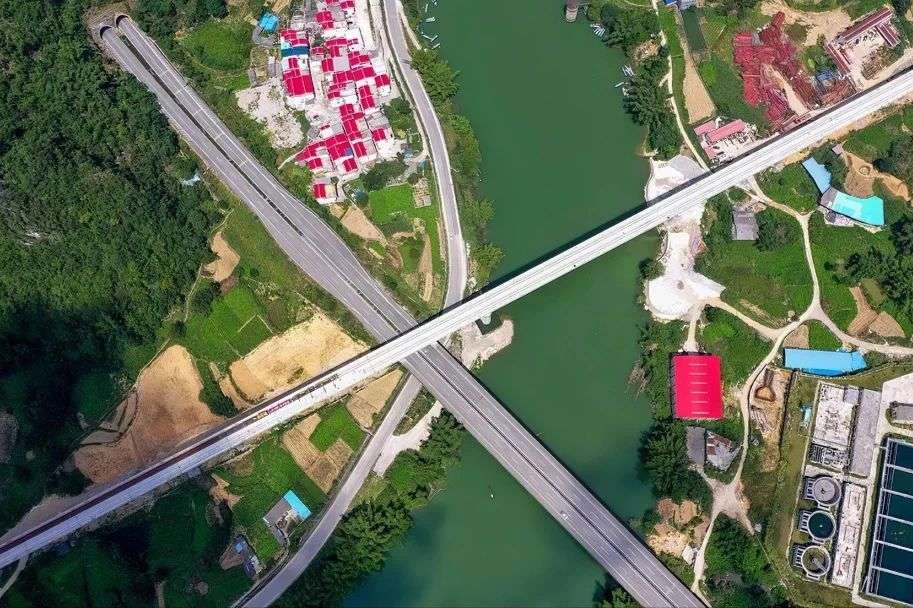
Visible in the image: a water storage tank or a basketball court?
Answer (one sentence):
Looking from above, you can make out a water storage tank.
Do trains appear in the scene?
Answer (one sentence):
Yes, a train appears in the view.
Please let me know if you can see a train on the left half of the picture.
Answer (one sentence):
Yes, a train shows up on the left half of the picture.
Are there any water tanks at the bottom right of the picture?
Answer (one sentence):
Yes, the scene does show a water tank at the bottom right of the picture.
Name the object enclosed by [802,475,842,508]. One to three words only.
water tank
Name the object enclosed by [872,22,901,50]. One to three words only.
building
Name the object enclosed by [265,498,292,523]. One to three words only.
house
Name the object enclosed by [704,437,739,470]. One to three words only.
shed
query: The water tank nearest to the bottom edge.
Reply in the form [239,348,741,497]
[788,545,831,580]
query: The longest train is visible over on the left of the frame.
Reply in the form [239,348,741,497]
[252,373,338,420]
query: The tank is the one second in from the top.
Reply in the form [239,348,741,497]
[794,510,836,545]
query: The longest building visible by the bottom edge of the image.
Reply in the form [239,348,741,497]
[827,481,867,588]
